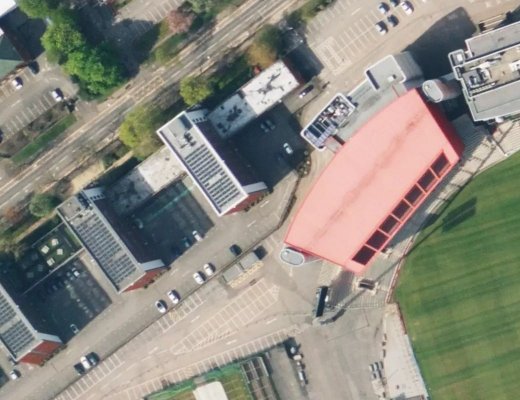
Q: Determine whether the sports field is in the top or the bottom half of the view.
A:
bottom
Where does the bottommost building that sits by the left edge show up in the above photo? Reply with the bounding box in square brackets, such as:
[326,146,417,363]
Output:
[0,283,67,362]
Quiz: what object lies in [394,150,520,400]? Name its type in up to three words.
sports field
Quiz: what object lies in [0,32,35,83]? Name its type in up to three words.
building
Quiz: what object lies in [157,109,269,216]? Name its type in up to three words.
building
